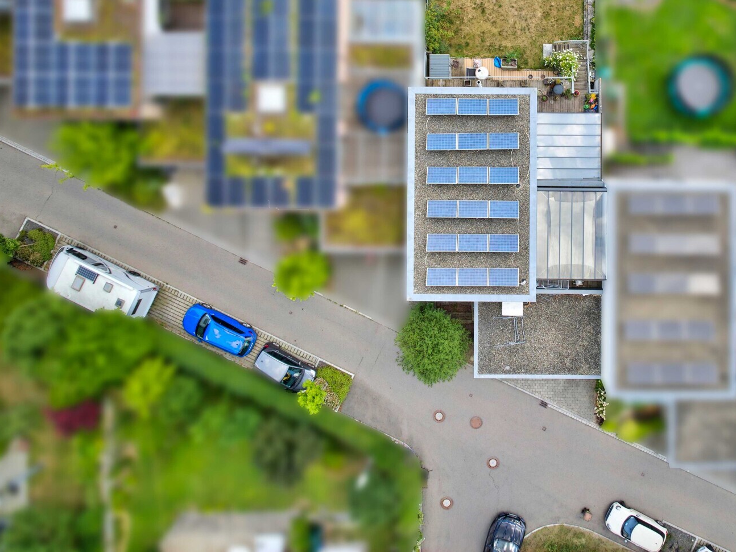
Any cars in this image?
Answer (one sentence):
Yes, there's a car here.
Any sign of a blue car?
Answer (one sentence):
Yes, you can see a blue car in this photo.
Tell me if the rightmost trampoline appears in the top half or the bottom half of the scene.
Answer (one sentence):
Seen from above, the rightmost trampoline lies in the top half of the view.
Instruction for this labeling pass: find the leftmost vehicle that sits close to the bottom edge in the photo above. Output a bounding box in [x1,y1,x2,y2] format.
[485,511,526,552]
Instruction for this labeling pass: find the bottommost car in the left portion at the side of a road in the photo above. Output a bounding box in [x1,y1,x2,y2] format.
[250,341,317,395]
